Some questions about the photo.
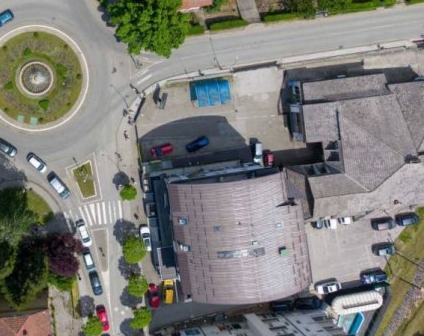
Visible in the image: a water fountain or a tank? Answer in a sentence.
There is a water fountain in the scene.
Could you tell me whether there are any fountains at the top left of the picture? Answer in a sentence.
Yes, there is a fountain at the top left of the picture.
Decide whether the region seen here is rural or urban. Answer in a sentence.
The area is urban.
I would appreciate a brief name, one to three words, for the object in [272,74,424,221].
building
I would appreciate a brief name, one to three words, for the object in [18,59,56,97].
fountain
